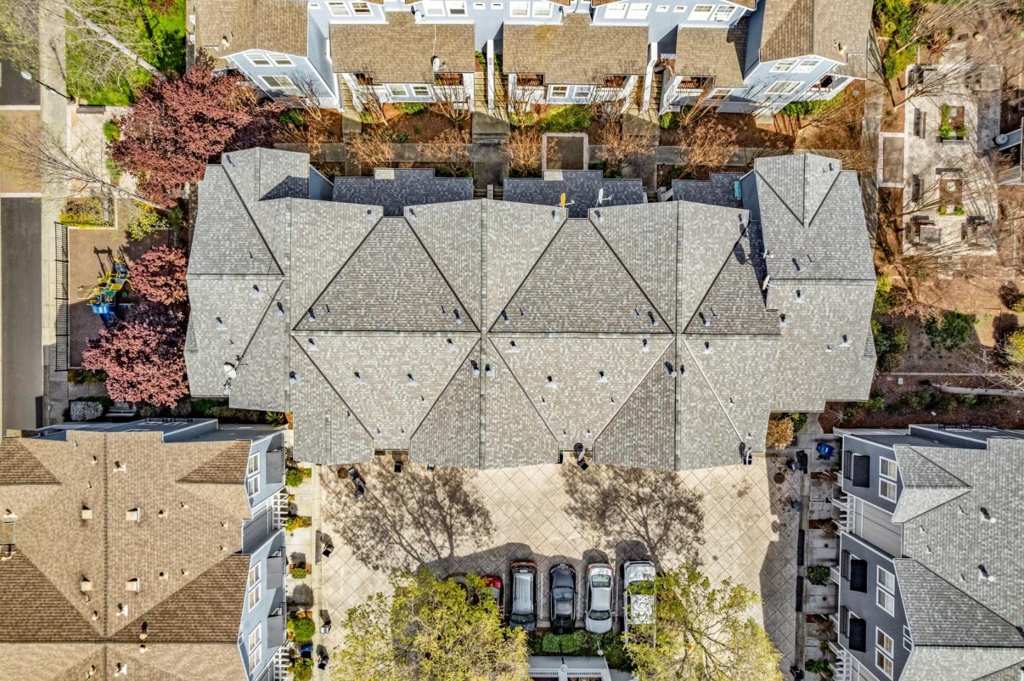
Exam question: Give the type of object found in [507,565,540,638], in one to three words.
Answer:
car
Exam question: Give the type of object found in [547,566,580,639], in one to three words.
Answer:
car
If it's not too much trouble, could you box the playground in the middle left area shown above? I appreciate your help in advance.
[86,259,143,322]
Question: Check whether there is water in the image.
No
